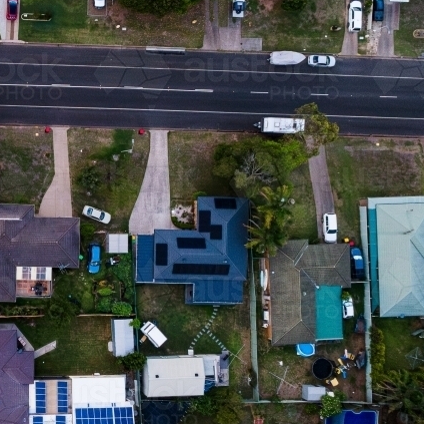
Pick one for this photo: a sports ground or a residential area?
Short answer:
residential area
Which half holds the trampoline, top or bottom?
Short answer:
bottom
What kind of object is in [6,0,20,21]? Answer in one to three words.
vehicle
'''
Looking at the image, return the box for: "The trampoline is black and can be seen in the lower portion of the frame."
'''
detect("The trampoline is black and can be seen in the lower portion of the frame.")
[311,358,333,379]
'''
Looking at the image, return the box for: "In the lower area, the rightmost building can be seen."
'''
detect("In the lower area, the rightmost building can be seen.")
[361,197,424,320]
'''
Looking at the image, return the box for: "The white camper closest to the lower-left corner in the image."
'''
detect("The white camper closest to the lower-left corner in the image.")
[139,320,165,346]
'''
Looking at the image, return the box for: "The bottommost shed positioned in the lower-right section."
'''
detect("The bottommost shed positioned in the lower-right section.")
[297,383,327,401]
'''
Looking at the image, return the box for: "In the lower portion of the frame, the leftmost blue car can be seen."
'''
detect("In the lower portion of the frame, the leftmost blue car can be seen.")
[87,242,102,273]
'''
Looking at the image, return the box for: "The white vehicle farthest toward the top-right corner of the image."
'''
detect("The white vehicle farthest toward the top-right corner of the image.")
[345,1,362,32]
